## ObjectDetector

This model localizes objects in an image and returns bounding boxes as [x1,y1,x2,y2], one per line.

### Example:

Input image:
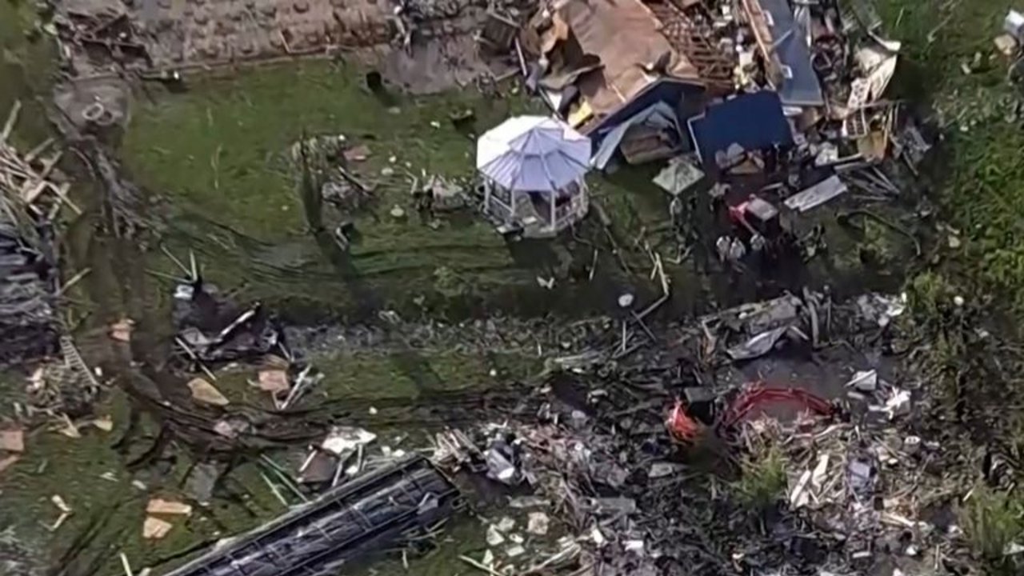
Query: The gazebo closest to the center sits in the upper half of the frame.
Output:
[476,115,594,244]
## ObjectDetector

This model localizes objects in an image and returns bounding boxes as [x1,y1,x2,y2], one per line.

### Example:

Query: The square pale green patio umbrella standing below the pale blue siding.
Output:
[652,157,705,197]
